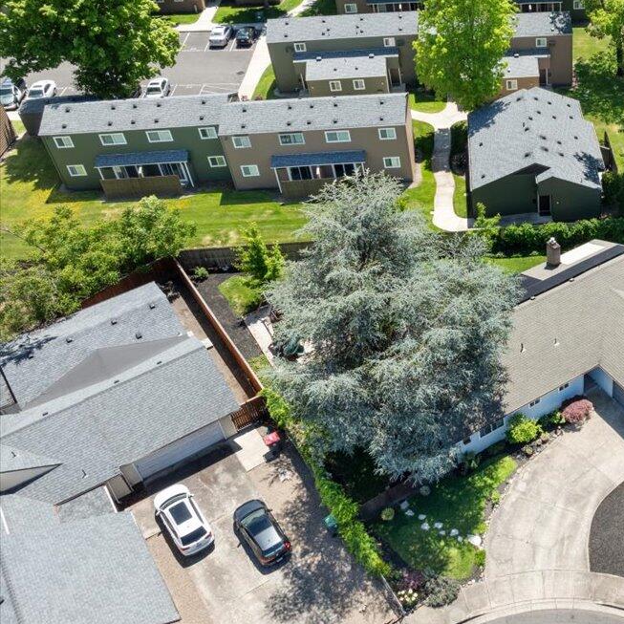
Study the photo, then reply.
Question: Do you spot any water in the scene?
No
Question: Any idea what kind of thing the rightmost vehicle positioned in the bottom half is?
car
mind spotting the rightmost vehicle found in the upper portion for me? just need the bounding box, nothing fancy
[234,27,258,45]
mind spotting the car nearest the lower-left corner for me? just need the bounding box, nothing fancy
[150,482,214,560]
